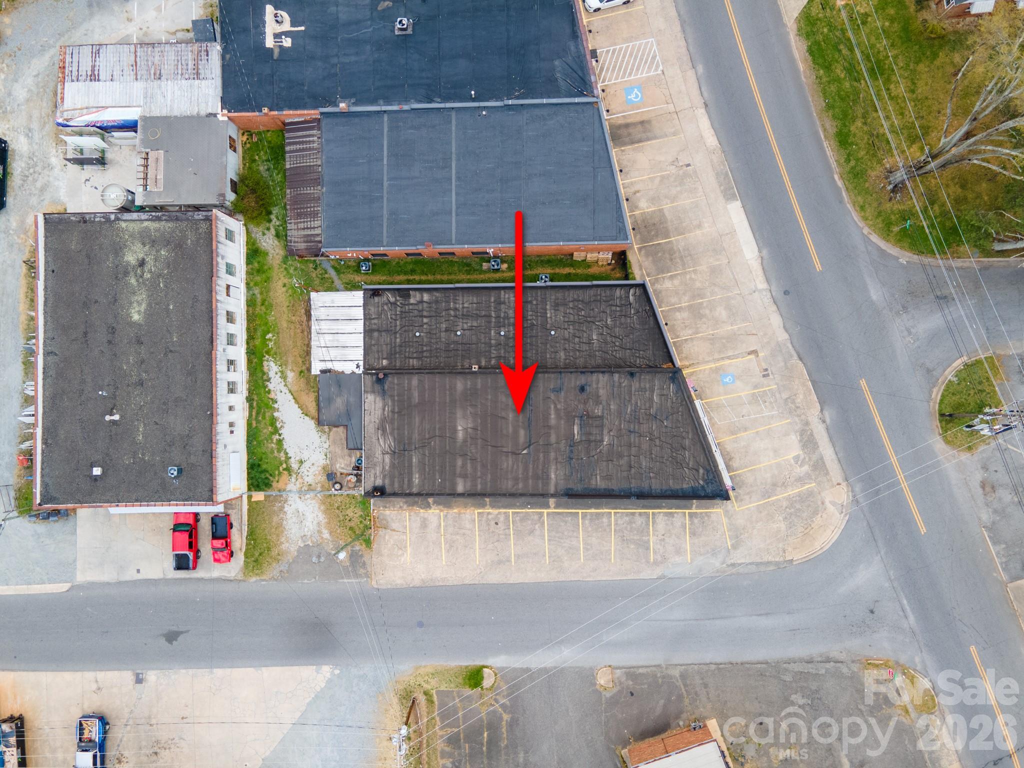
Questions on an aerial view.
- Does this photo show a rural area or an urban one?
urban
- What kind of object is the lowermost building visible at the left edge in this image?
warehouse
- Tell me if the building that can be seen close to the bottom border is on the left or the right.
right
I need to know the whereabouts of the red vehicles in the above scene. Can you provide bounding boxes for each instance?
[207,513,236,566]
[169,512,202,572]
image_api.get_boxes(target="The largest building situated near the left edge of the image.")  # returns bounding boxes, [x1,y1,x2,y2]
[34,209,243,514]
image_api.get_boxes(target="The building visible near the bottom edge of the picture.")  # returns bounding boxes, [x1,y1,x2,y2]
[625,722,729,768]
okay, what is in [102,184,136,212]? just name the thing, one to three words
water tank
